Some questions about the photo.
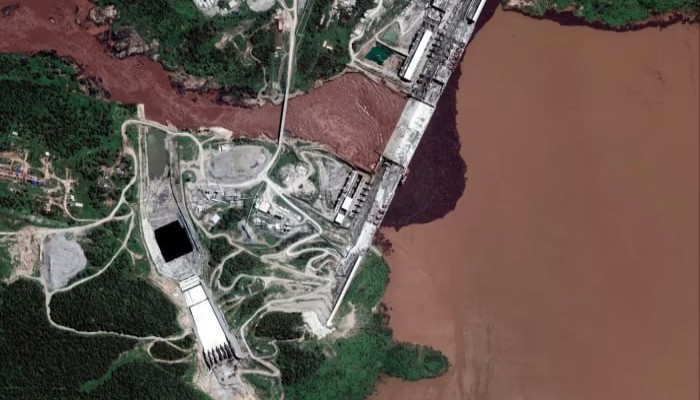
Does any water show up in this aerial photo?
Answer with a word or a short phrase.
Yes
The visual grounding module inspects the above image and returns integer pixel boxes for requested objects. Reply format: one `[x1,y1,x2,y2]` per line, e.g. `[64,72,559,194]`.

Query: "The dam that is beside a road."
[327,0,486,323]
